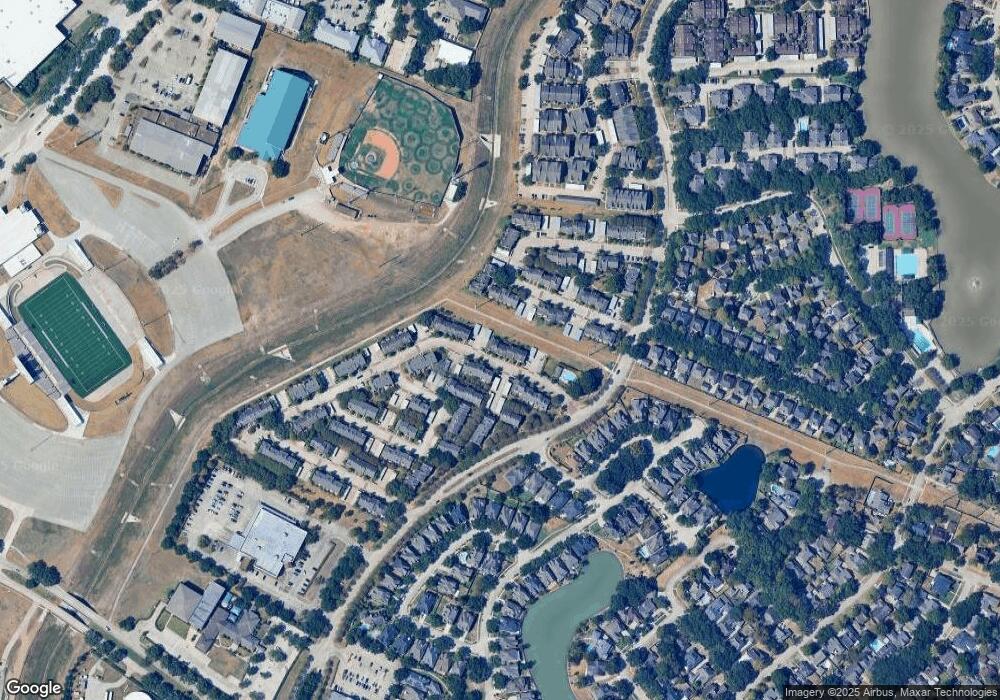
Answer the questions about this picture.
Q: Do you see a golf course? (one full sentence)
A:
No, there isn't any golf course down there.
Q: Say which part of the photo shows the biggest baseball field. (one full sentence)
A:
The biggest baseball field is located in the top region of the scene.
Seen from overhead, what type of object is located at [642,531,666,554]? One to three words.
house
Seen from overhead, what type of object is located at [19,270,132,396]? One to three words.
sports field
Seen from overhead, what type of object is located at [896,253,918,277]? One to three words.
swimming pool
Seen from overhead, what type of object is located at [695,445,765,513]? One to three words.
pond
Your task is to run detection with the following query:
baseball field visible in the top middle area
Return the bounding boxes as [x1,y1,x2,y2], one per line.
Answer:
[338,76,461,206]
